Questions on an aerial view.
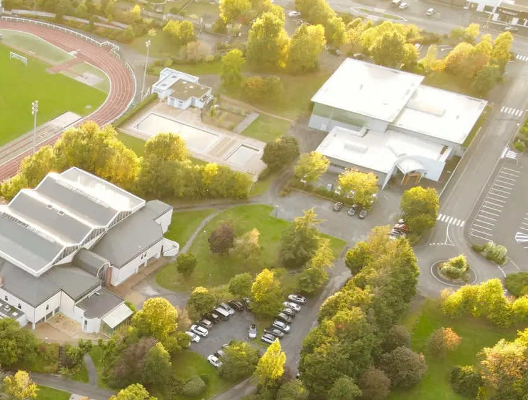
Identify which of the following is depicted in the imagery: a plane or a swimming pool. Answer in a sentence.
The image shows a swimming pool.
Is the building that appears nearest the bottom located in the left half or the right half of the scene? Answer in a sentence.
The building that appears nearest the bottom appears in the left half of the scene.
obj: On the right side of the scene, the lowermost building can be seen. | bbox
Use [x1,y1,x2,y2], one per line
[300,59,487,189]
